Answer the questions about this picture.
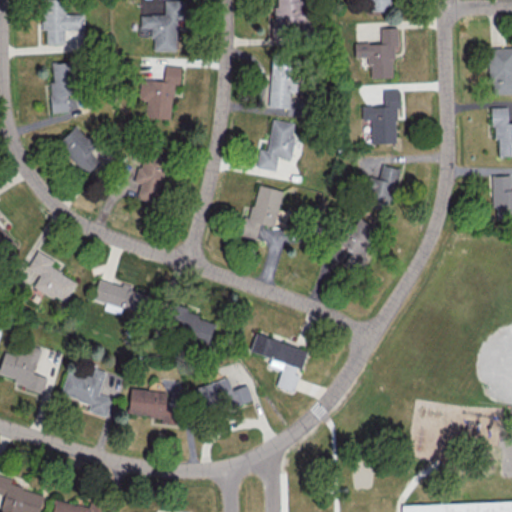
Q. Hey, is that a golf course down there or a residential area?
residential area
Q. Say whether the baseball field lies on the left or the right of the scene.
right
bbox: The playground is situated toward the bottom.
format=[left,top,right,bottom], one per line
[411,400,504,464]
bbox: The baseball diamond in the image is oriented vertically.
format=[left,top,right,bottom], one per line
[476,324,512,405]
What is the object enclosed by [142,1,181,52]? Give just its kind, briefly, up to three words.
house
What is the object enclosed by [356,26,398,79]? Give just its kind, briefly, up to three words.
house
